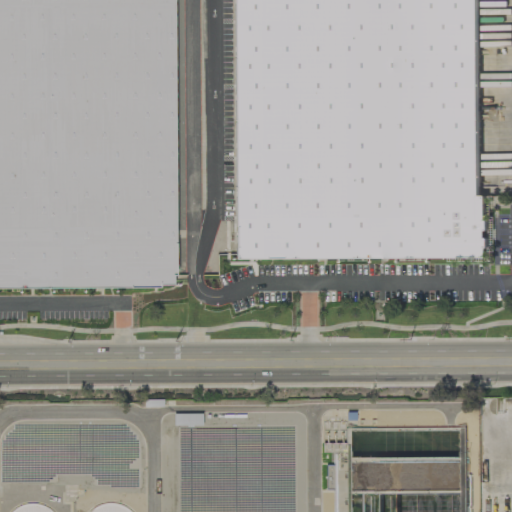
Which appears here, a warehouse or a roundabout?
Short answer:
warehouse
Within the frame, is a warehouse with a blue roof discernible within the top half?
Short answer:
No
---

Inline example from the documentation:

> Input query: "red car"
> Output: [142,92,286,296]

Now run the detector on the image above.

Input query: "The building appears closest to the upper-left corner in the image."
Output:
[0,0,180,289]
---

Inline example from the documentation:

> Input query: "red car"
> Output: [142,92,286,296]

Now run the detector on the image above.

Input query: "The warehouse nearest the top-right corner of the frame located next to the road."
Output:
[237,0,485,259]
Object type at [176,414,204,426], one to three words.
shed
